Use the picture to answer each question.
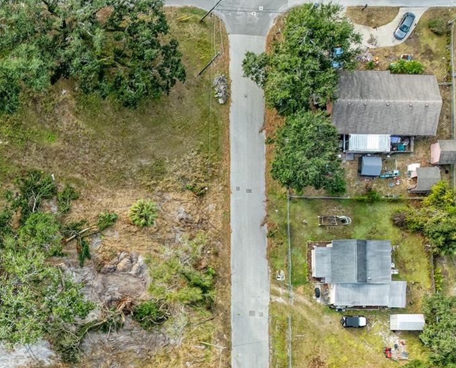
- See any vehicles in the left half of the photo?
No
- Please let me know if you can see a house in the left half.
No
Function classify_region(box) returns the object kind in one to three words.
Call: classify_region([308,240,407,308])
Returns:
house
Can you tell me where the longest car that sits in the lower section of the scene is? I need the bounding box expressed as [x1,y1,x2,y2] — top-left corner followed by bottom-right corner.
[344,315,369,328]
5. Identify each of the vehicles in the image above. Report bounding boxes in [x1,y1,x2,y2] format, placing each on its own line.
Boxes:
[344,315,369,328]
[395,9,422,40]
